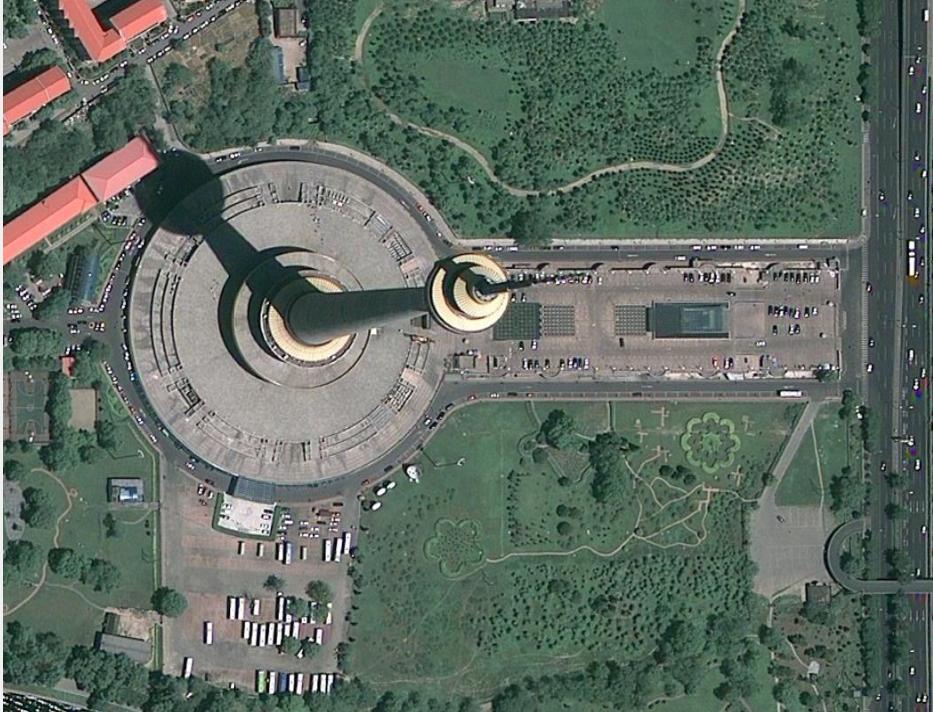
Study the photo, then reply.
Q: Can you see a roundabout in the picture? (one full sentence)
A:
No, there appears to be no roundabout in this shot.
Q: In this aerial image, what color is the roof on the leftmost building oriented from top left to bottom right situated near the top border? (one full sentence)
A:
The roof over the leftmost building oriented from top left to bottom right situated near the top border appears red.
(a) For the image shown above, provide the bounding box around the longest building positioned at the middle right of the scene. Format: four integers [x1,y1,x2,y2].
[647,300,731,342]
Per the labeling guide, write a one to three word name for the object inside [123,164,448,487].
building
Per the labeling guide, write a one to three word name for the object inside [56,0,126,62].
building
